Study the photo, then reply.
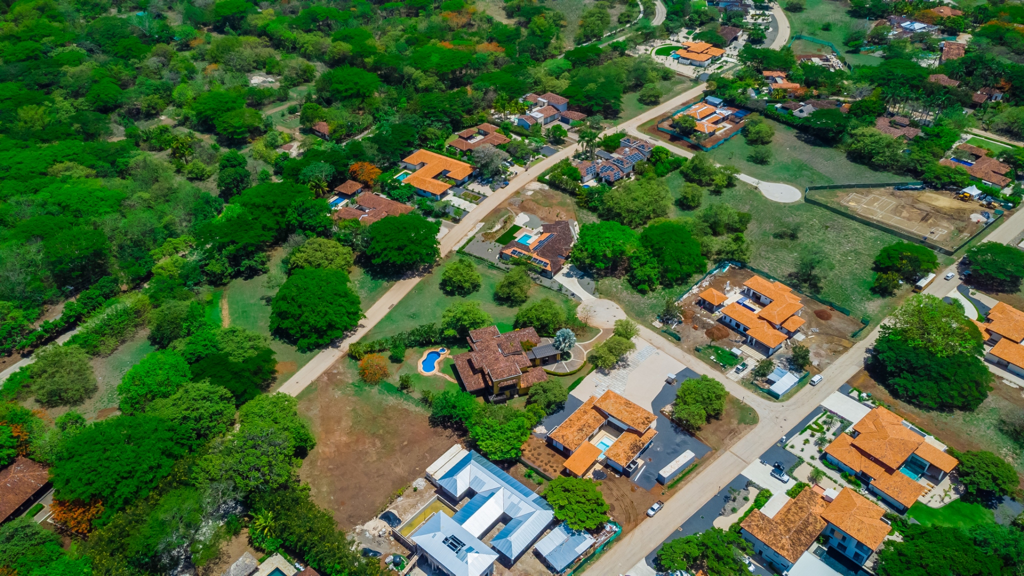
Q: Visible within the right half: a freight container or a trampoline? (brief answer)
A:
freight container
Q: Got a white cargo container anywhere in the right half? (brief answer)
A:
Yes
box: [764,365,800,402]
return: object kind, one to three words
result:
shed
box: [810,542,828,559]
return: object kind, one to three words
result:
swimming pool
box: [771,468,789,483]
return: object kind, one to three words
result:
car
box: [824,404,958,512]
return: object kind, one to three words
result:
house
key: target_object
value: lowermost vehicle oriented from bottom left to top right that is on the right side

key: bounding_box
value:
[646,500,666,516]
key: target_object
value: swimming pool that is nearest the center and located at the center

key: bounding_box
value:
[515,231,534,245]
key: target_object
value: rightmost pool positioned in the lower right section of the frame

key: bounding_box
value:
[898,460,927,482]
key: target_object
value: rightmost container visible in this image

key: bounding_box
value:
[657,450,695,485]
